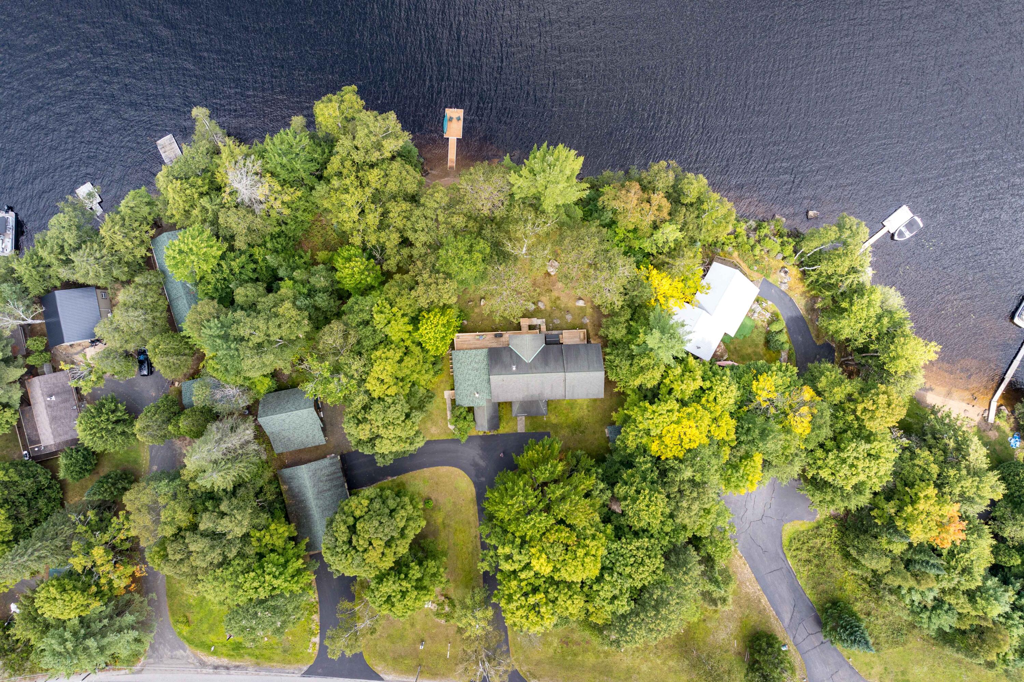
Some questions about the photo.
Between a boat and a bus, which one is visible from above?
boat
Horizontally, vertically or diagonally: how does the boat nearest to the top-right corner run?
diagonally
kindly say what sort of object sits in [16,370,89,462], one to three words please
house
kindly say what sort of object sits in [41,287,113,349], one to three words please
building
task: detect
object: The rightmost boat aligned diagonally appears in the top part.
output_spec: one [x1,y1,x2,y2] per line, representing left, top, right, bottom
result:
[893,216,925,241]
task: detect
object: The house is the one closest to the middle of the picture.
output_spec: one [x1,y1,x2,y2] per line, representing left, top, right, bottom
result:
[449,318,604,431]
